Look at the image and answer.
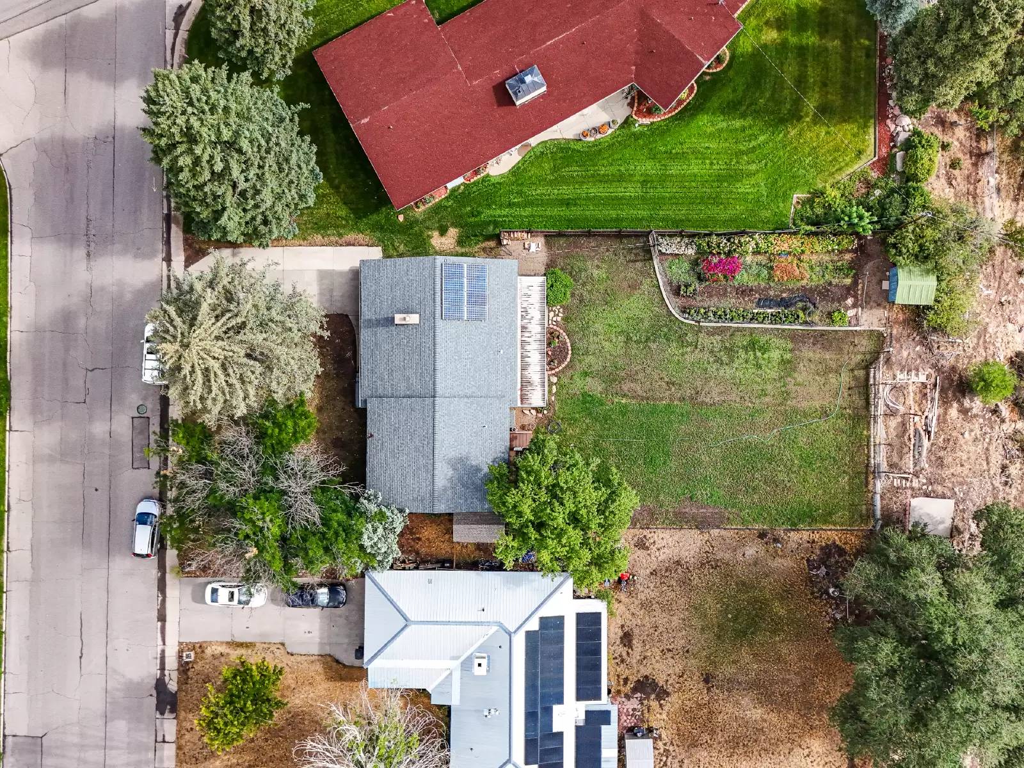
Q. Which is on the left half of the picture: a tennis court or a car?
car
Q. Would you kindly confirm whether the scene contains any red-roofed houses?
Yes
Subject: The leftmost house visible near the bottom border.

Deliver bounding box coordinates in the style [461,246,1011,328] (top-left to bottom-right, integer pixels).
[363,570,618,768]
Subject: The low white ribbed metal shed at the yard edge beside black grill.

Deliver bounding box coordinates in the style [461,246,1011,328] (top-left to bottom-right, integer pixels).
[625,736,654,768]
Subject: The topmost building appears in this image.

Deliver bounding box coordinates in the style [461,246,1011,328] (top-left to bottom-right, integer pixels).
[313,0,751,210]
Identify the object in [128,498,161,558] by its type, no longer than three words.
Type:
car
